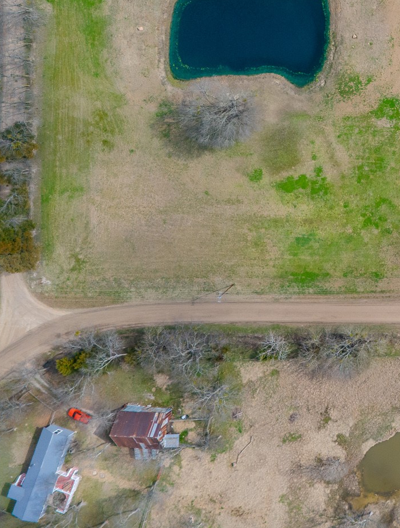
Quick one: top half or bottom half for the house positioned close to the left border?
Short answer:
bottom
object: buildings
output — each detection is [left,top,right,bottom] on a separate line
[109,407,168,450]
[7,424,74,522]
